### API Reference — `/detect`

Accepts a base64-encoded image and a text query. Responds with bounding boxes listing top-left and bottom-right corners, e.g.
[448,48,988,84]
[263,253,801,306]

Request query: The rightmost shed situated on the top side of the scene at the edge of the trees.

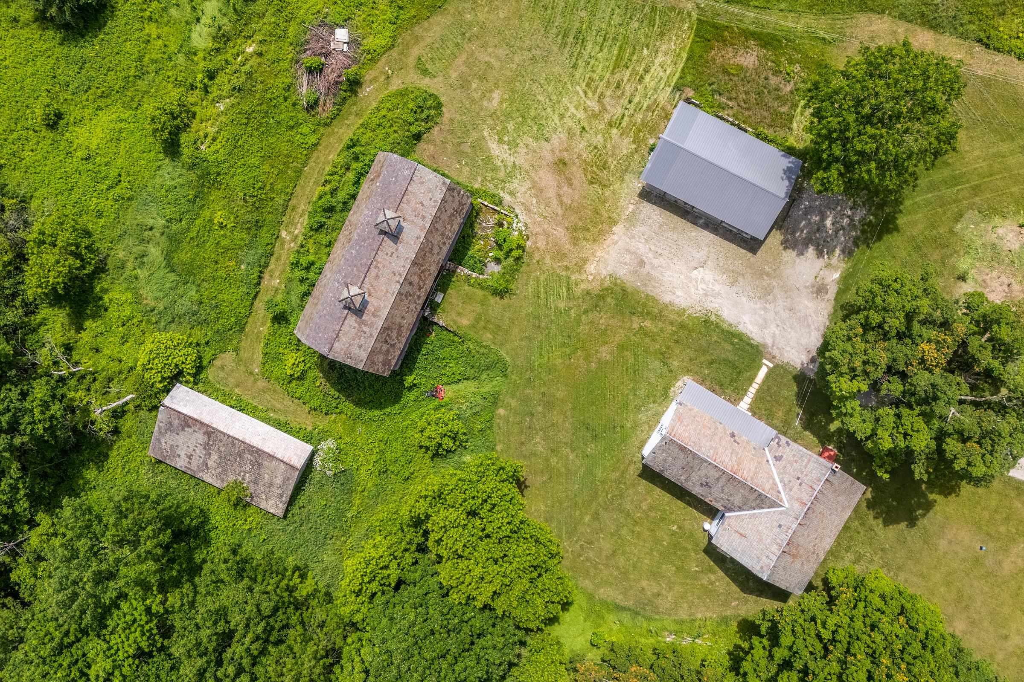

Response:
[638,99,804,243]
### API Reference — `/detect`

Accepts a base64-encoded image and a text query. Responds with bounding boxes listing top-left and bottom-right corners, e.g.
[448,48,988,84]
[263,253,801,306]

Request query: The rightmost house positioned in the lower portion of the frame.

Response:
[640,379,864,595]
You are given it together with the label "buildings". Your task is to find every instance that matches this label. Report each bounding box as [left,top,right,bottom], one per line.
[638,99,804,243]
[151,384,318,517]
[295,154,473,376]
[640,379,864,595]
